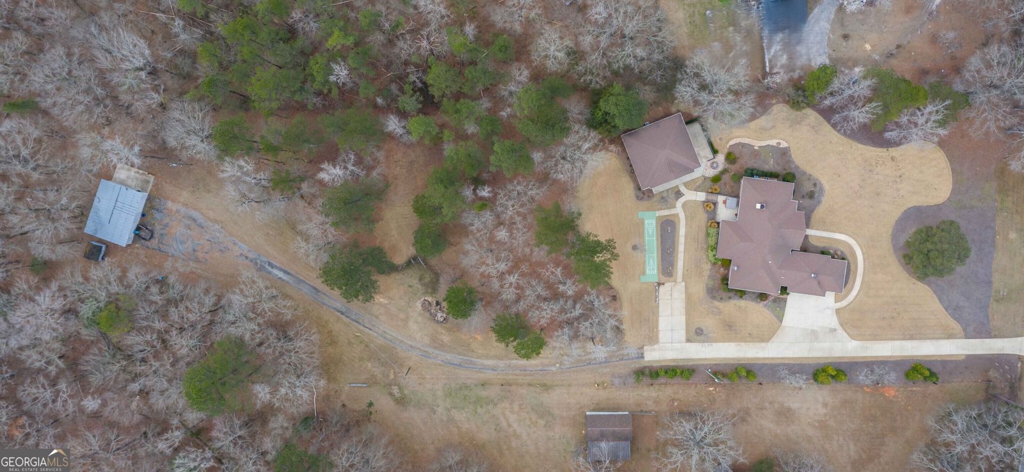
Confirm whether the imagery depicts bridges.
No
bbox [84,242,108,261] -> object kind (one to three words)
shed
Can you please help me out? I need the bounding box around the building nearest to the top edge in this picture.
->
[621,113,701,189]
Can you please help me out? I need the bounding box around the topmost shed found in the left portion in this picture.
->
[85,180,154,247]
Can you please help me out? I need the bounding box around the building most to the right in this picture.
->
[715,177,848,297]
